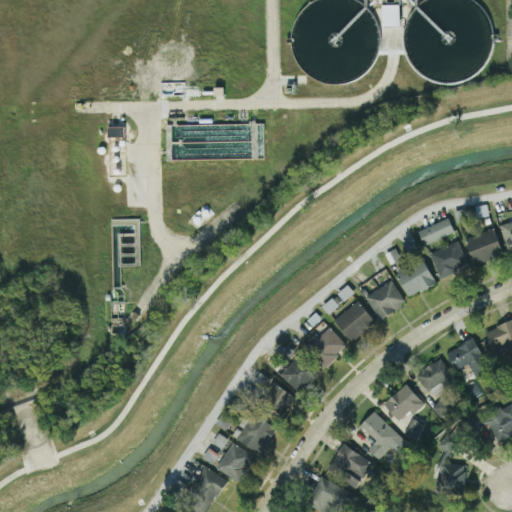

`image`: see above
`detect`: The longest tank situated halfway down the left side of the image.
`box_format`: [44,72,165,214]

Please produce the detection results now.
[111,218,141,288]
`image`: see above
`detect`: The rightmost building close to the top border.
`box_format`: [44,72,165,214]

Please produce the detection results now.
[382,3,400,26]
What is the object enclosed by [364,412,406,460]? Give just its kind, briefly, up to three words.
house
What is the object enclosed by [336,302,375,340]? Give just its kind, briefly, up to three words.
house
